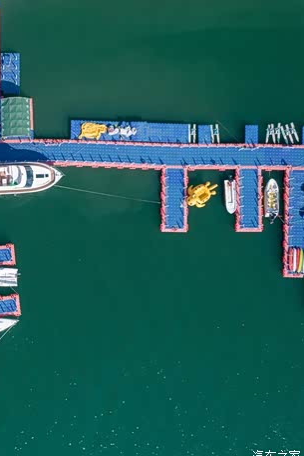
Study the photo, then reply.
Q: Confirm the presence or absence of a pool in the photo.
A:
No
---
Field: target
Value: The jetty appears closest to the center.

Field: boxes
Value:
[158,170,188,232]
